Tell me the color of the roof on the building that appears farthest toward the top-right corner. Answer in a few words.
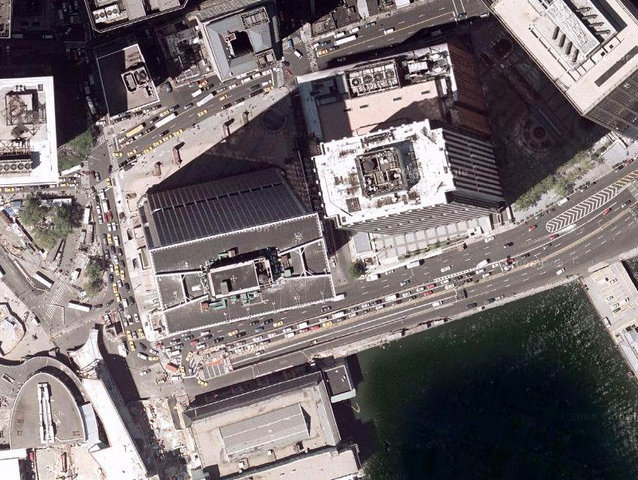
white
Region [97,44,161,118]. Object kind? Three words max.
building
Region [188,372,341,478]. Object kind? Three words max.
building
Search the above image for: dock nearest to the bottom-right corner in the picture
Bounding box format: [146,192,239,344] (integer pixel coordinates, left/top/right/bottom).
[581,263,638,378]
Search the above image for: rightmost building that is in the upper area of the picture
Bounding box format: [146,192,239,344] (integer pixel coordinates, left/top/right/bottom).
[483,0,638,138]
